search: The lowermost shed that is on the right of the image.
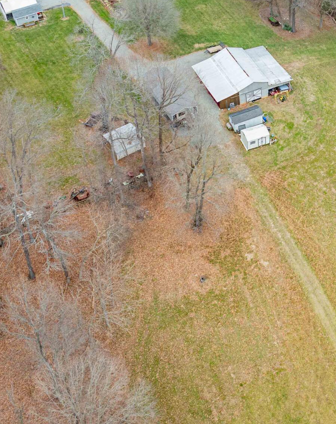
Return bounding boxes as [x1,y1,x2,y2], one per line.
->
[240,125,269,151]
